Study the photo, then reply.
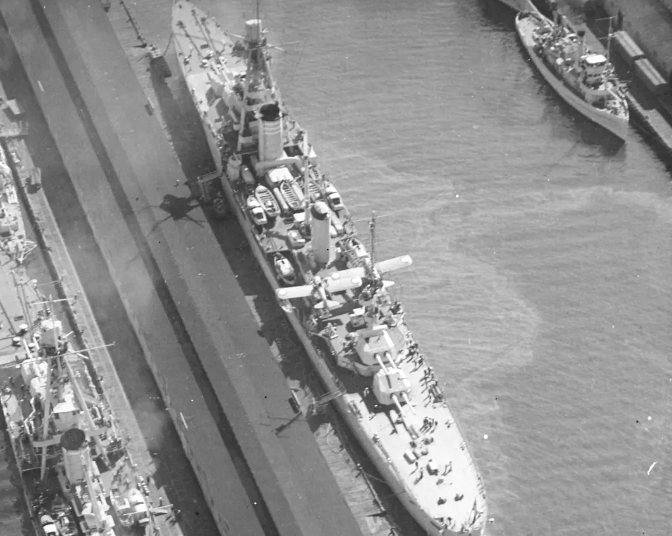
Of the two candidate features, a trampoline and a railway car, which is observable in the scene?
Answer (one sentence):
Of the two, only a railway car appears.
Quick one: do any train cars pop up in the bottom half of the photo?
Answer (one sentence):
No, no train car is visible in the bottom half of the photo.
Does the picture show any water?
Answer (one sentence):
Yes, water can be seen from above here.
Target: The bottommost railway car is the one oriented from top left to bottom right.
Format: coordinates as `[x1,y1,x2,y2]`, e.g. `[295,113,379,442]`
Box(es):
[633,58,669,100]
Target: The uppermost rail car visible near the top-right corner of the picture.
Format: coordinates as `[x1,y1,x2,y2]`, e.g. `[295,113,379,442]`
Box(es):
[609,32,644,71]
